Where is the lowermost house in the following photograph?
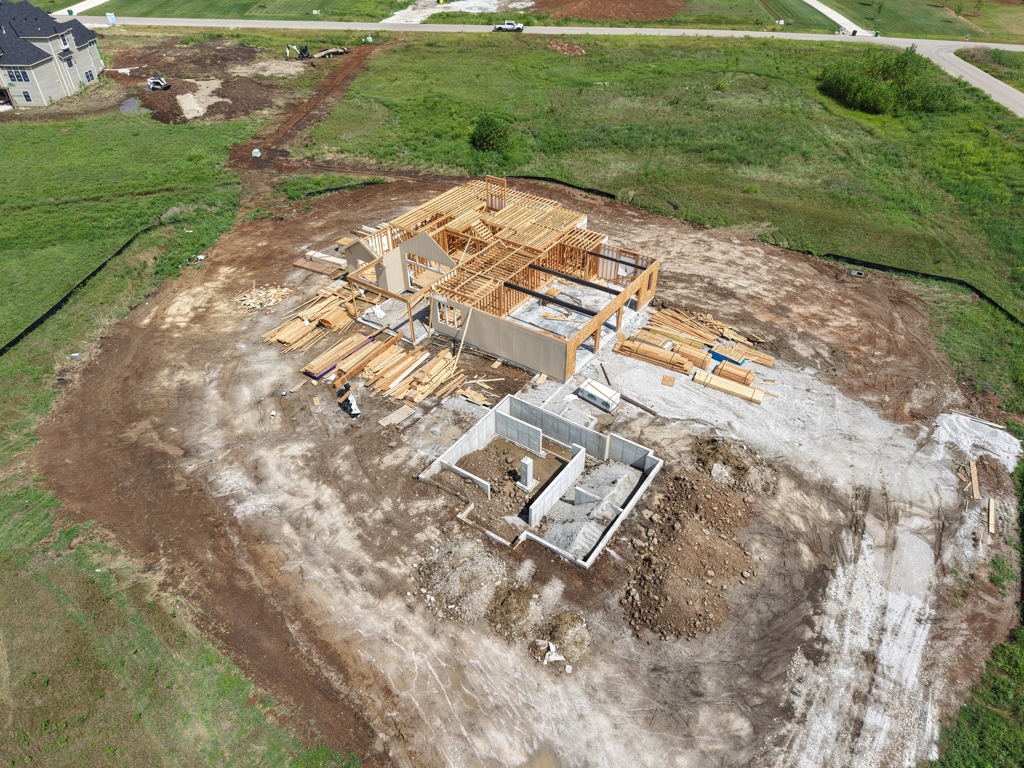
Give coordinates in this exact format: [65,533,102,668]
[333,174,661,385]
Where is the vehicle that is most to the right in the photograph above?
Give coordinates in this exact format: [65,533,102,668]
[494,19,523,32]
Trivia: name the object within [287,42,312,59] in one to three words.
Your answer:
work vehicle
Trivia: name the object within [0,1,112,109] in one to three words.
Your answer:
house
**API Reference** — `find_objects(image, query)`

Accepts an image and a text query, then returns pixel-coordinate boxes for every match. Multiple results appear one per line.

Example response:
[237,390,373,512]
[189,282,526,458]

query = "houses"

[0,1,112,109]
[333,174,661,385]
